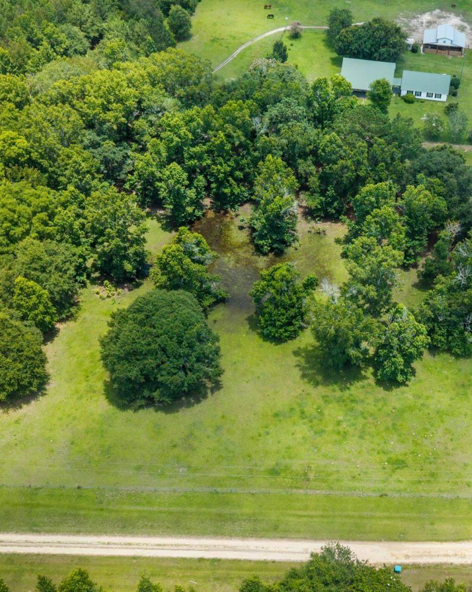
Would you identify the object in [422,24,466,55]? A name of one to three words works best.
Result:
building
